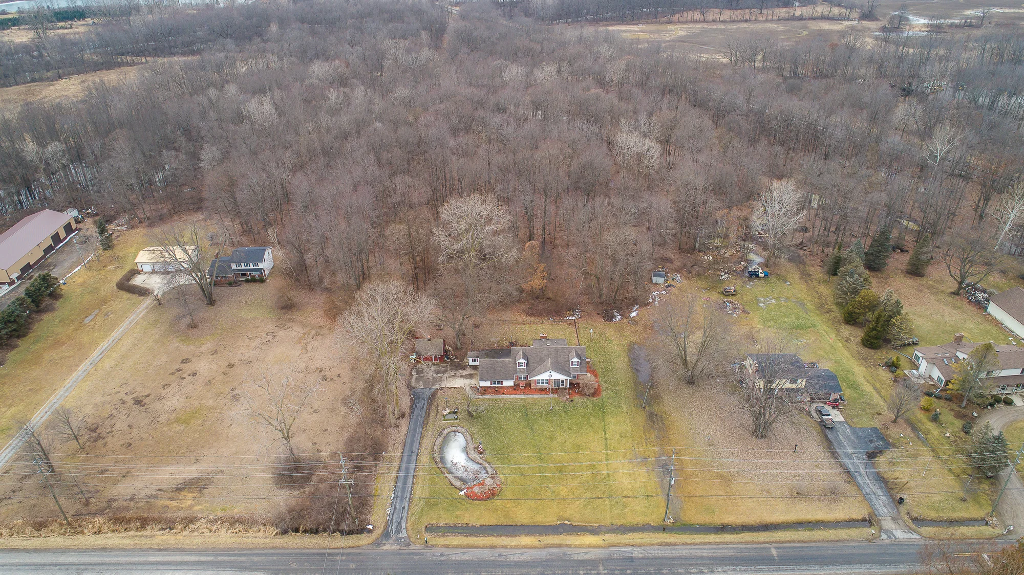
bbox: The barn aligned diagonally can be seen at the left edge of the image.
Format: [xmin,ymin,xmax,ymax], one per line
[0,208,78,286]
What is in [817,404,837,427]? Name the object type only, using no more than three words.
vehicle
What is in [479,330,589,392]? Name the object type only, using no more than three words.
house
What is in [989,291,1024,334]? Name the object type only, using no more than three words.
building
